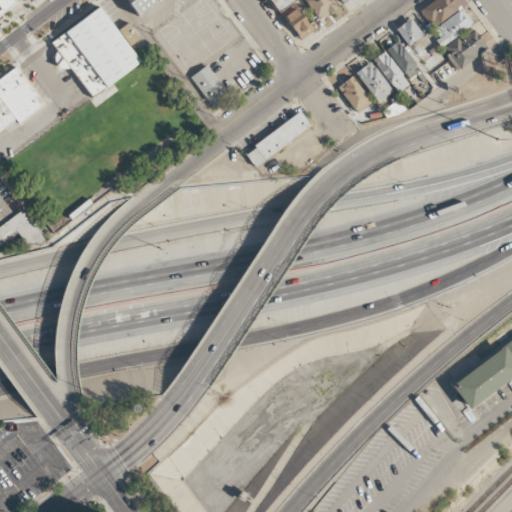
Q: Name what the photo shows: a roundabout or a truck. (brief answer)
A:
truck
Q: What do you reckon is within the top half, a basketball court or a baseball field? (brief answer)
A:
basketball court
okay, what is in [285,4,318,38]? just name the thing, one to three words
house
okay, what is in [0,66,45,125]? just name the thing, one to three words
building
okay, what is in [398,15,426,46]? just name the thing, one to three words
house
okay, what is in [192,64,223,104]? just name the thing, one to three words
building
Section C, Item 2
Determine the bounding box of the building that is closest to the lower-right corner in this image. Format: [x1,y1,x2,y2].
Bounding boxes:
[456,344,512,409]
